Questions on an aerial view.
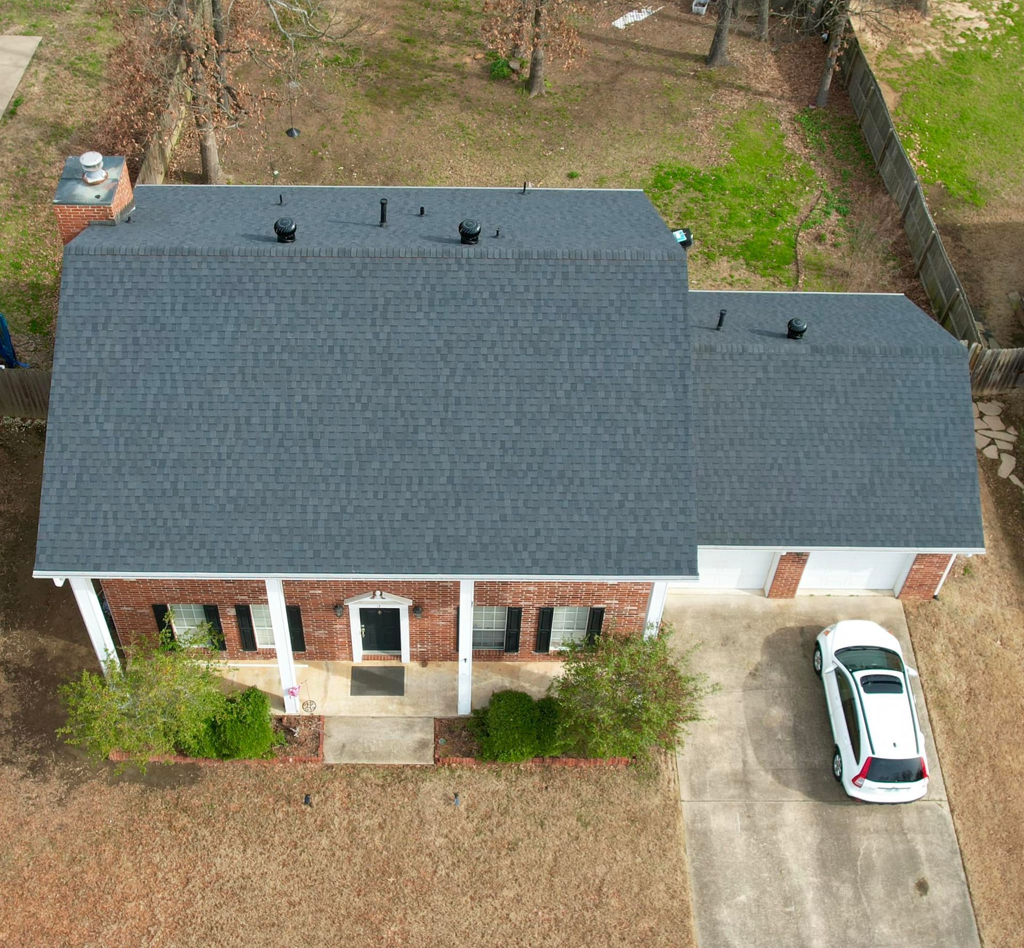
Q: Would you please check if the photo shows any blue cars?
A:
No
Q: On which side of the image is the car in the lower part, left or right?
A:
right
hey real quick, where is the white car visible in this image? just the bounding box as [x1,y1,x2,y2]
[813,616,936,807]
